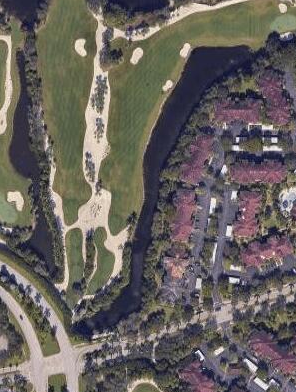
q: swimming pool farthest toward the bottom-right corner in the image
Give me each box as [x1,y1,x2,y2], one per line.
[279,188,296,217]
